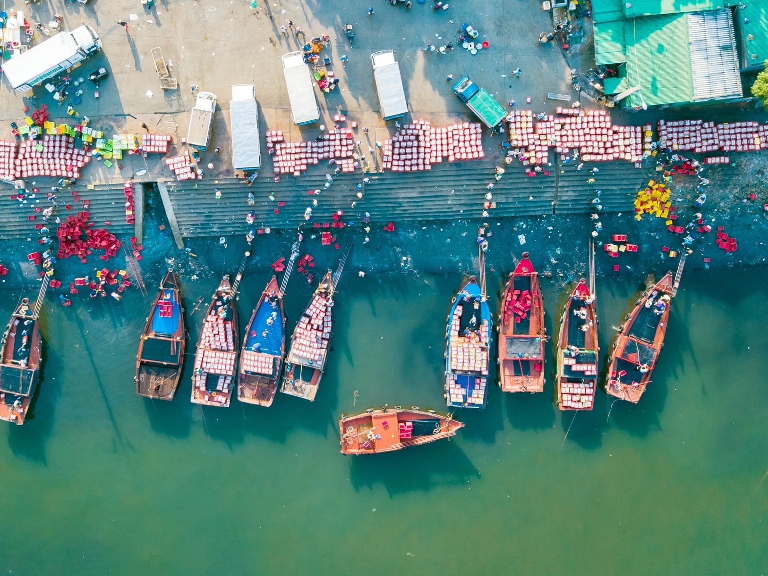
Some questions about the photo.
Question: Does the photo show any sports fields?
No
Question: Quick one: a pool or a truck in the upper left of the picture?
truck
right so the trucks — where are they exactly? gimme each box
[226,85,263,176]
[366,50,409,129]
[277,51,322,136]
[447,74,507,137]
[187,91,223,158]
[2,23,111,94]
